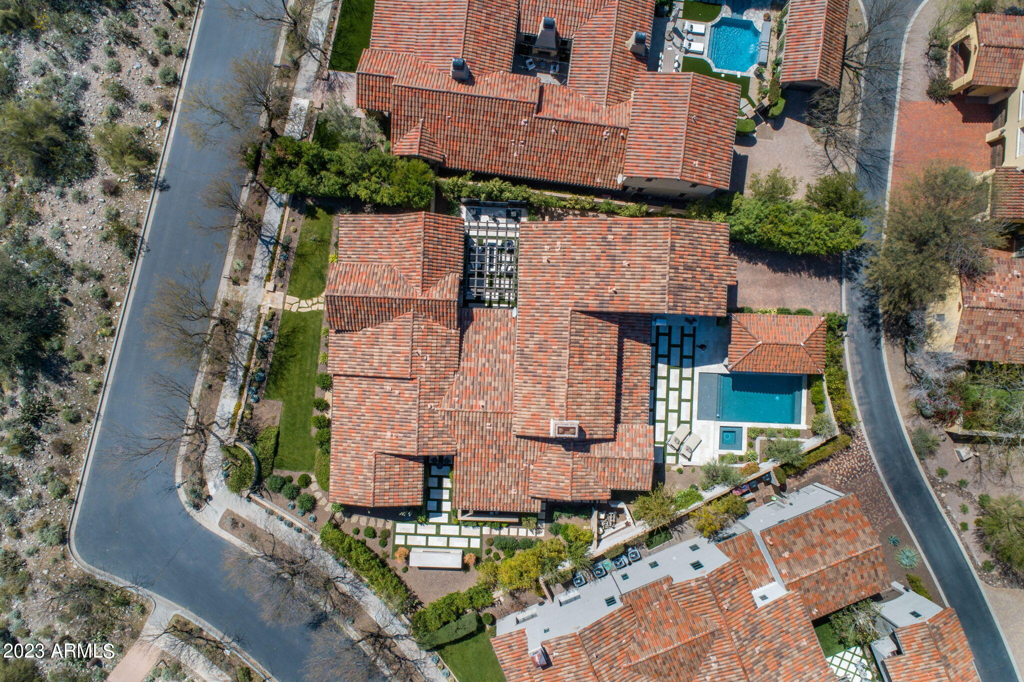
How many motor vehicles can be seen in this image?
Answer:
0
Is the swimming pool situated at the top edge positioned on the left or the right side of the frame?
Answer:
right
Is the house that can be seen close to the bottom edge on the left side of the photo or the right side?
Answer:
right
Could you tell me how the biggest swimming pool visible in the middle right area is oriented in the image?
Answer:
from side to side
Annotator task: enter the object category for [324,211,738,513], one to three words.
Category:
house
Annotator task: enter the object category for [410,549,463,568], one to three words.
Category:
fountain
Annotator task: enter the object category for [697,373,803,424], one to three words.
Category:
swimming pool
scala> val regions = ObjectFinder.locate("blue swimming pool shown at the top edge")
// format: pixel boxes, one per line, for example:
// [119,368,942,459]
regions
[705,4,769,75]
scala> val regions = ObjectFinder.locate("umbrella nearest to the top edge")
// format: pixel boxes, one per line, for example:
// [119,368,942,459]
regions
[664,10,676,40]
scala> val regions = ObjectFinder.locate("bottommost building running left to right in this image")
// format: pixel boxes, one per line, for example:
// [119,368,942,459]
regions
[491,482,982,682]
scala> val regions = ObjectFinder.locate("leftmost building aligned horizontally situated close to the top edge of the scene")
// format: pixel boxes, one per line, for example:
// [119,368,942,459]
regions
[355,0,741,202]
